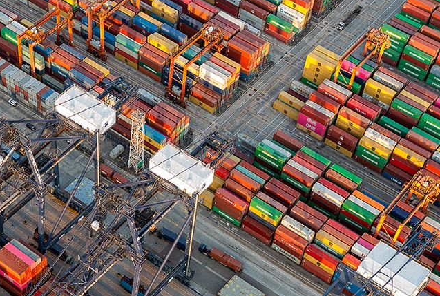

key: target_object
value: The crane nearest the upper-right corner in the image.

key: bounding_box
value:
[326,17,394,100]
